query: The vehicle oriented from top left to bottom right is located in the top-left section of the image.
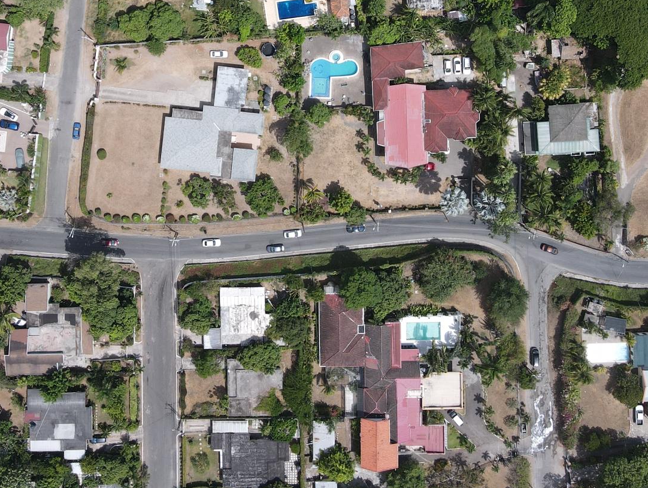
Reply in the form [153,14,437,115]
[0,106,18,122]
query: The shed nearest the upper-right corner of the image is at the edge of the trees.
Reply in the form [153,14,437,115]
[551,39,587,60]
